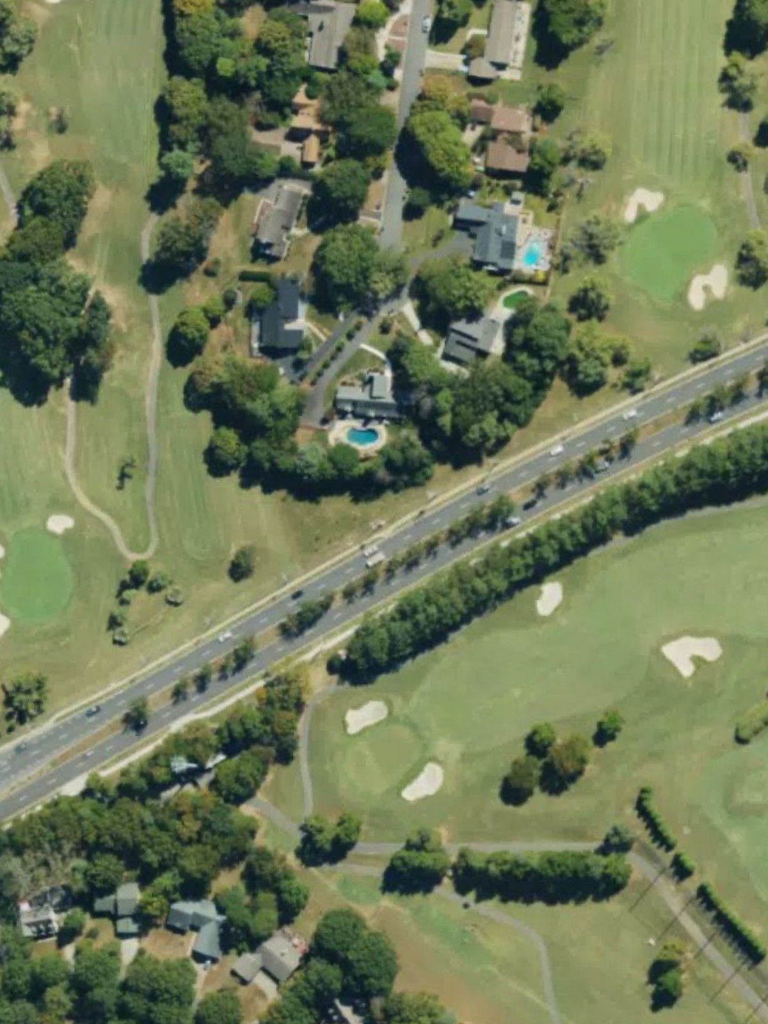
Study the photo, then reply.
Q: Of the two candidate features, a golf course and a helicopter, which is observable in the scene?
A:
golf course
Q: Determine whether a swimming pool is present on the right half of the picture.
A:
Yes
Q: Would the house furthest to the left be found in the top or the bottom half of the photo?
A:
bottom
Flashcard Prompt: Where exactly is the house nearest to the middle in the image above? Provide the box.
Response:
[335,374,398,418]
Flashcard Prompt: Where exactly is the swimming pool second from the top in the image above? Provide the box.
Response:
[497,287,534,316]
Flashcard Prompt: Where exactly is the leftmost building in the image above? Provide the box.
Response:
[18,898,61,938]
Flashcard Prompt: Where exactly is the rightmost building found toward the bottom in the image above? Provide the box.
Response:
[232,931,303,984]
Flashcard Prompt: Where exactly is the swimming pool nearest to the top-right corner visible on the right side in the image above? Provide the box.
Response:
[516,221,552,272]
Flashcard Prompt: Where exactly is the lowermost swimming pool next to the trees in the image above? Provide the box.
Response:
[329,419,388,455]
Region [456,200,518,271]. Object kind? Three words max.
house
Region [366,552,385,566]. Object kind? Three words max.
vehicle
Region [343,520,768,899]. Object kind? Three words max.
golf course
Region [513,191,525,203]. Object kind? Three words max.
gazebo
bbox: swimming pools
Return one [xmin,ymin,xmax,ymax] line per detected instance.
[329,419,388,455]
[497,287,534,316]
[516,221,552,272]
